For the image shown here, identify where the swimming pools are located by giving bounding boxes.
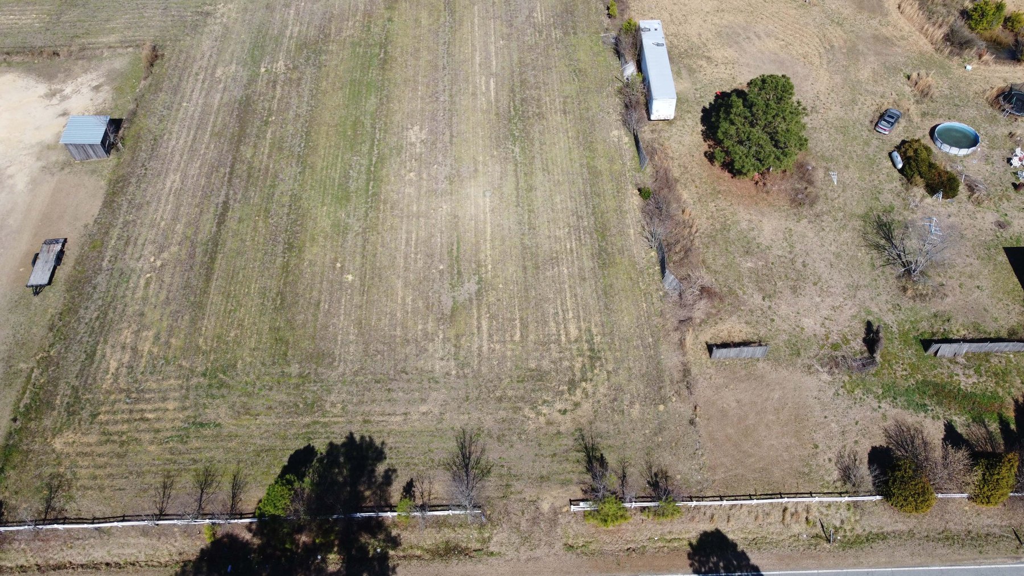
[931,124,977,160]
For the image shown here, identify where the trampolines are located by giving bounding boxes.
[1003,77,1024,119]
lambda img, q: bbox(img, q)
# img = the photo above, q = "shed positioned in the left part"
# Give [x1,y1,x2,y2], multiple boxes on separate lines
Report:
[60,114,117,162]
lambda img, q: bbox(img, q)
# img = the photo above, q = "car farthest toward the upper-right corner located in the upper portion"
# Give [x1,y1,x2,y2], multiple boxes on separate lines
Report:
[873,109,901,138]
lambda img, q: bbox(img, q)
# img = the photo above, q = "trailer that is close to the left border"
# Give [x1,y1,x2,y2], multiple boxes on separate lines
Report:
[25,237,67,299]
